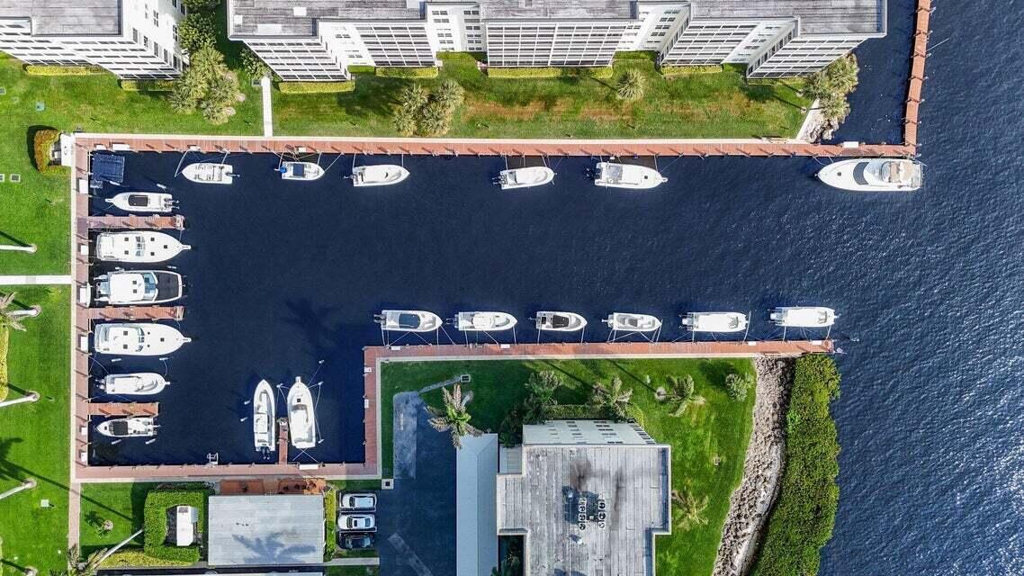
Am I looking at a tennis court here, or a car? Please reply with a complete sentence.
Visible in the photo is a car.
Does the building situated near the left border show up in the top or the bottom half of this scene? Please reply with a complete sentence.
Seen from above, the building situated near the left border lies in the top half of the view.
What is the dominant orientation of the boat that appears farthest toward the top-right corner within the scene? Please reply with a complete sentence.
The boat that appears farthest toward the top-right corner runs horizontally in the image.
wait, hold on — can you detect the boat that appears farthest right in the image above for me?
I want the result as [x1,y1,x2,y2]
[816,156,924,191]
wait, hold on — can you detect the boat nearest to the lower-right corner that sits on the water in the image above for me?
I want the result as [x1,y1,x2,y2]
[761,307,840,339]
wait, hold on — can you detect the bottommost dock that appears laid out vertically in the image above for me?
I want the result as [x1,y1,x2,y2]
[274,418,290,464]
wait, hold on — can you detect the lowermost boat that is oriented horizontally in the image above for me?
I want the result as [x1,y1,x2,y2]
[90,417,168,436]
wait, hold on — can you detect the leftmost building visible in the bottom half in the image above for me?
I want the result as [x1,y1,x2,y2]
[208,495,326,565]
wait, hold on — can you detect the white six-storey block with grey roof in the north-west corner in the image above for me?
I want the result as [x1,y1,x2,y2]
[0,0,182,78]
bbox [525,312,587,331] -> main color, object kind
white boat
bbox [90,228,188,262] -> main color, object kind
white boat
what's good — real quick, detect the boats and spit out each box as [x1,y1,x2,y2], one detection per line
[761,307,840,339]
[90,417,168,436]
[488,154,559,189]
[446,311,517,344]
[341,154,410,186]
[583,155,679,188]
[87,281,92,308]
[279,363,321,461]
[181,151,247,183]
[600,312,663,343]
[252,379,275,463]
[816,156,924,191]
[88,317,188,371]
[525,312,587,331]
[99,192,188,216]
[675,311,763,341]
[90,357,170,402]
[90,228,188,262]
[272,152,331,180]
[97,270,189,304]
[369,310,453,347]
